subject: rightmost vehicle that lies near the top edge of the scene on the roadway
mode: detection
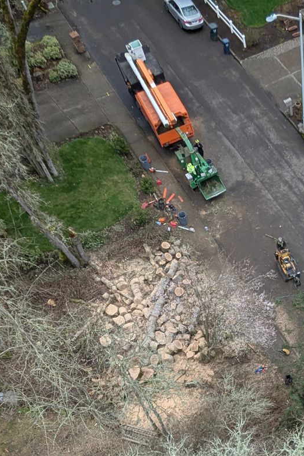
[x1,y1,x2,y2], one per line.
[161,0,201,28]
